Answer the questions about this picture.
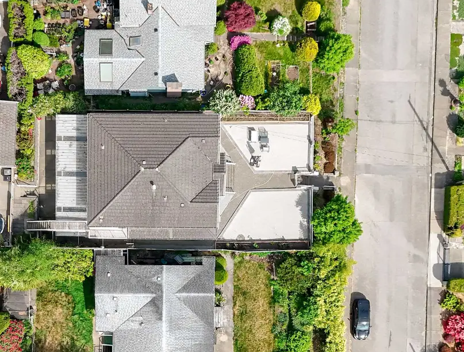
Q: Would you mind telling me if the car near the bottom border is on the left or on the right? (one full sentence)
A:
The car near the bottom border sits on the right side.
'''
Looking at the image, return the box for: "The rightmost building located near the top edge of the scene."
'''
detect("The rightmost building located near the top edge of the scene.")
[82,0,217,106]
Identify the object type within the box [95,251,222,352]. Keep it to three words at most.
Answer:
house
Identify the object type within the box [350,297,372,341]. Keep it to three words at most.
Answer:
car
